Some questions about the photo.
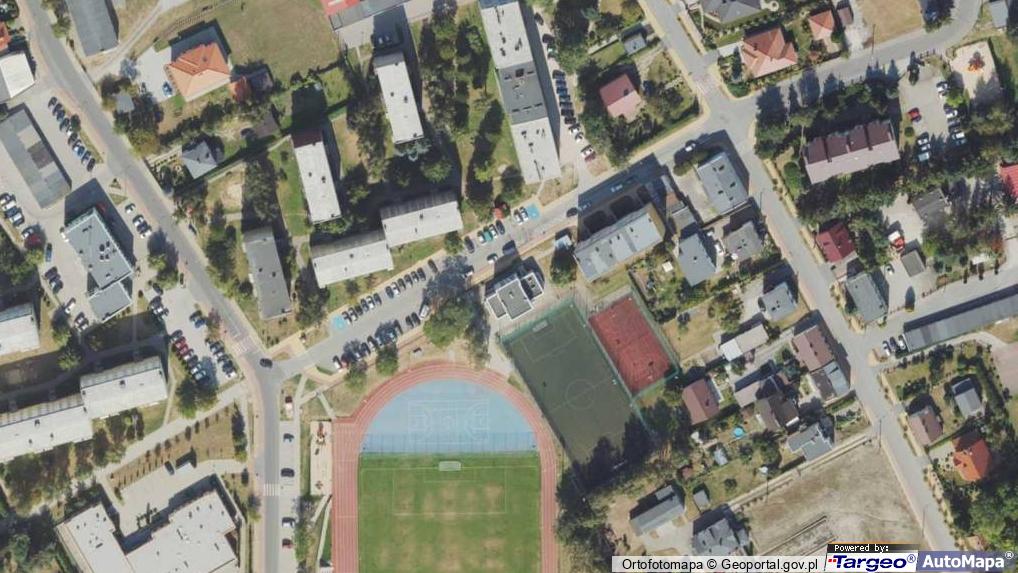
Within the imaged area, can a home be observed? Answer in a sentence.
Yes, this view includes a home.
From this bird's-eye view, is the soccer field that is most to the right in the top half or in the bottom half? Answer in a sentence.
The bottom half of the photo is where the soccer field that is most to the right is.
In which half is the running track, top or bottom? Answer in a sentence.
You can find the running track in the bottom half.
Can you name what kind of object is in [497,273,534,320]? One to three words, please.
building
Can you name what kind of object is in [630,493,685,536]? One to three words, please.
barn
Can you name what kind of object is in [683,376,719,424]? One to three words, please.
house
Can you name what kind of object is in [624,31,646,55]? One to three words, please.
shed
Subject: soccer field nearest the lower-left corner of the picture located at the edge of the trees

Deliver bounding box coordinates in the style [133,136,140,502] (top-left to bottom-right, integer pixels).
[358,453,541,573]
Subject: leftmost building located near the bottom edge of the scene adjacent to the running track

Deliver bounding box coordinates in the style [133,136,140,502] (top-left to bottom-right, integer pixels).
[56,487,249,573]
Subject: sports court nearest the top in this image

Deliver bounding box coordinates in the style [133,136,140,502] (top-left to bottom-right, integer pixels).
[590,298,671,394]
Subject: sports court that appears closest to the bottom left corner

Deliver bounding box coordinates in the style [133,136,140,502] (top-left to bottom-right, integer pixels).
[359,378,539,452]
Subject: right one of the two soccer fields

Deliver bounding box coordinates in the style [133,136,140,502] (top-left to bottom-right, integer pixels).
[505,305,644,476]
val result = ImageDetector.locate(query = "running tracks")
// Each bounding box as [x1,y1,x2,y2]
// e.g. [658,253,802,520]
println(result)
[332,360,559,573]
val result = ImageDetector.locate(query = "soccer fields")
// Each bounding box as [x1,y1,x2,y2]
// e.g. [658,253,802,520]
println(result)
[358,453,541,573]
[505,305,644,476]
